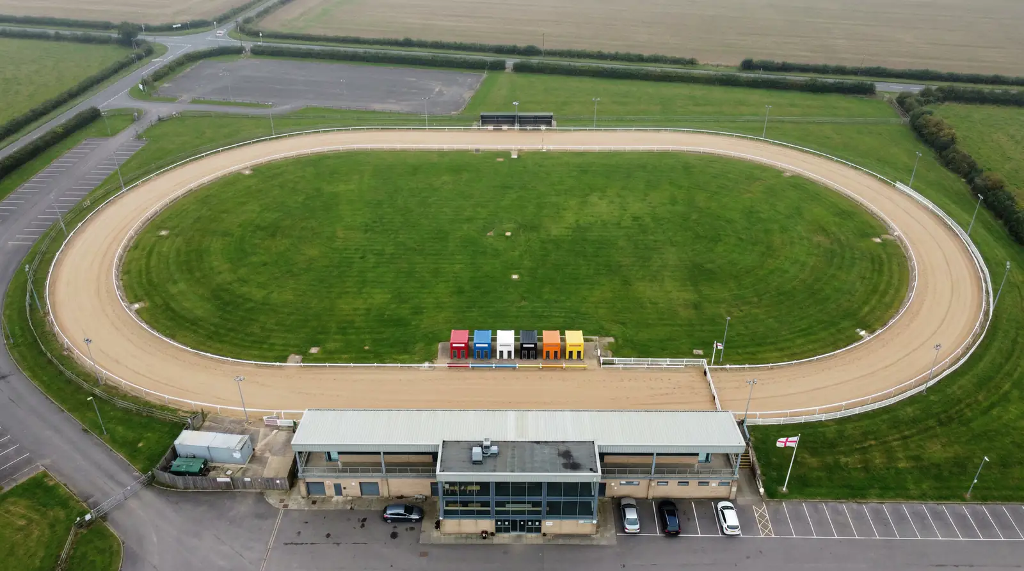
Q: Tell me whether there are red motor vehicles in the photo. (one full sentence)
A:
No, this view has no red motor vehicle in it.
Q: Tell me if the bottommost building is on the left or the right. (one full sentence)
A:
It is on the left.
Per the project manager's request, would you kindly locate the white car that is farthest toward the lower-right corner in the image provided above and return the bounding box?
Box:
[717,502,739,533]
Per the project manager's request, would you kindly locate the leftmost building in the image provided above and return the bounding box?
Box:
[173,429,254,466]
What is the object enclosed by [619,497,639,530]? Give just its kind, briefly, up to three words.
car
